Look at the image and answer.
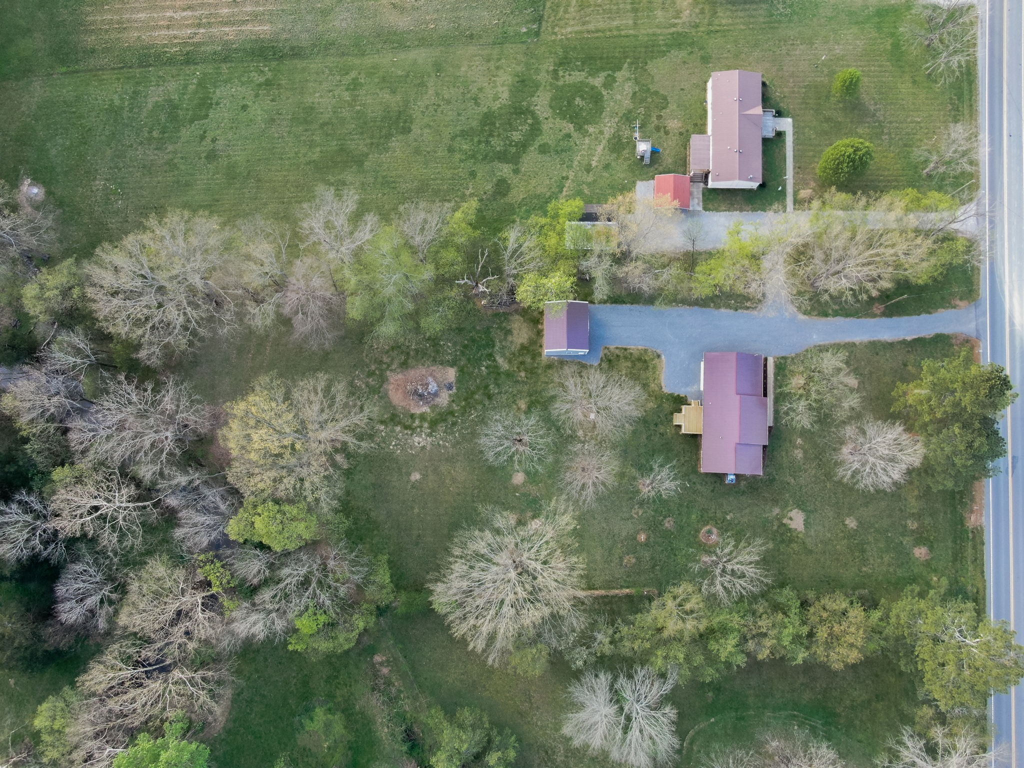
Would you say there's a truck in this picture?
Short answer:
No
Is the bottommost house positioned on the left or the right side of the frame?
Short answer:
right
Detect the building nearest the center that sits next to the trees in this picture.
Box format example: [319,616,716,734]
[544,300,588,354]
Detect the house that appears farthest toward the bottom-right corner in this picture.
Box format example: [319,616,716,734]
[673,351,769,473]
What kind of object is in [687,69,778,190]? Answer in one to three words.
house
